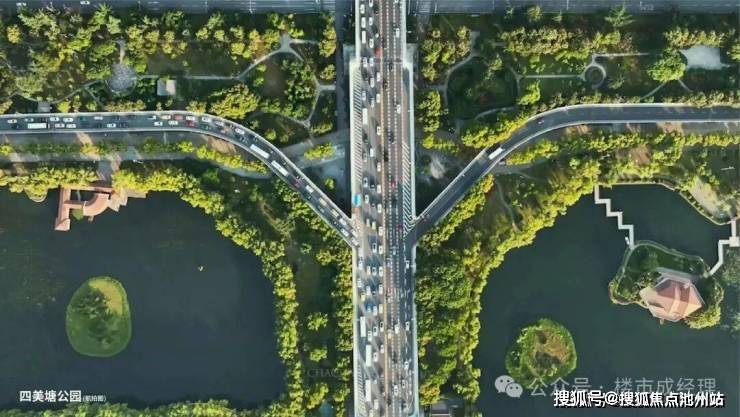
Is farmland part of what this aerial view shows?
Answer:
No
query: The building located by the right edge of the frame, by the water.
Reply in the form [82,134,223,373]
[632,269,703,323]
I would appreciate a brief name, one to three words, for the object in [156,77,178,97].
building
